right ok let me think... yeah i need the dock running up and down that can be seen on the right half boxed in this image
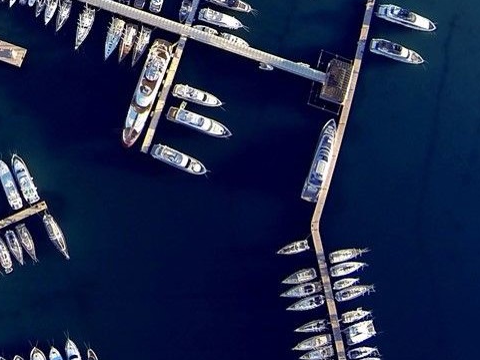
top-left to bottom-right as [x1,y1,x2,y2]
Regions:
[312,0,375,360]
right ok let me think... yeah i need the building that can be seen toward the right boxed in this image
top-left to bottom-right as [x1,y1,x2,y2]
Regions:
[317,59,353,106]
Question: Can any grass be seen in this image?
No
